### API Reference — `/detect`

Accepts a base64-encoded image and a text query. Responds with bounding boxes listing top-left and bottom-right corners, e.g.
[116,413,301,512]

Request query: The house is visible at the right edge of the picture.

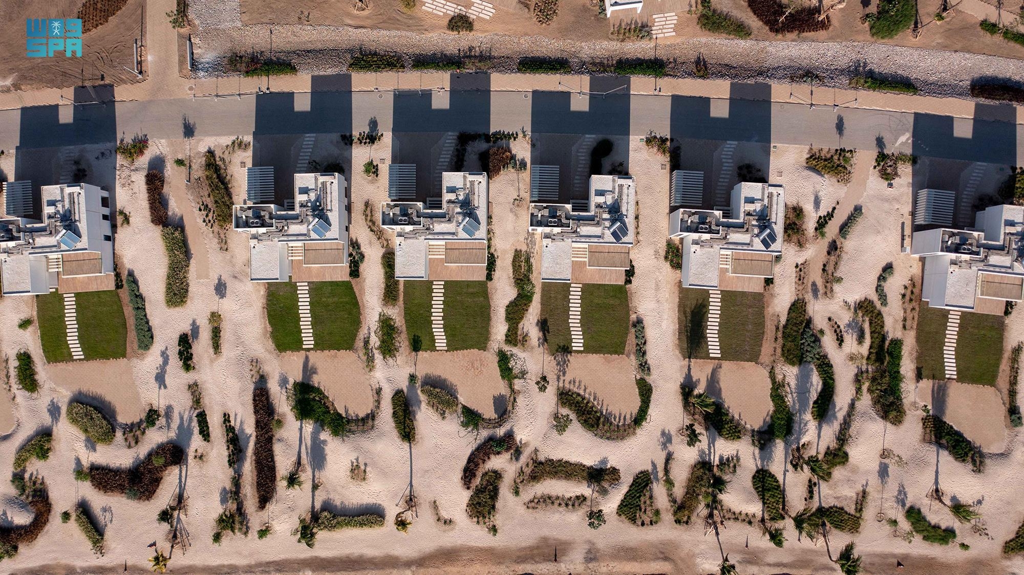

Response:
[912,208,1024,317]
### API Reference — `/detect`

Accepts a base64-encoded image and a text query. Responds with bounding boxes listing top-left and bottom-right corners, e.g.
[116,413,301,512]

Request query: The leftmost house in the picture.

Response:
[0,183,117,295]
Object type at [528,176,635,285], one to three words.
house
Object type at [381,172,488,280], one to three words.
house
